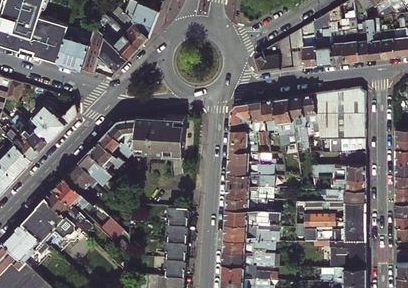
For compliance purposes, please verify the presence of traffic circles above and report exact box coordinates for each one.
[160,22,235,97]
